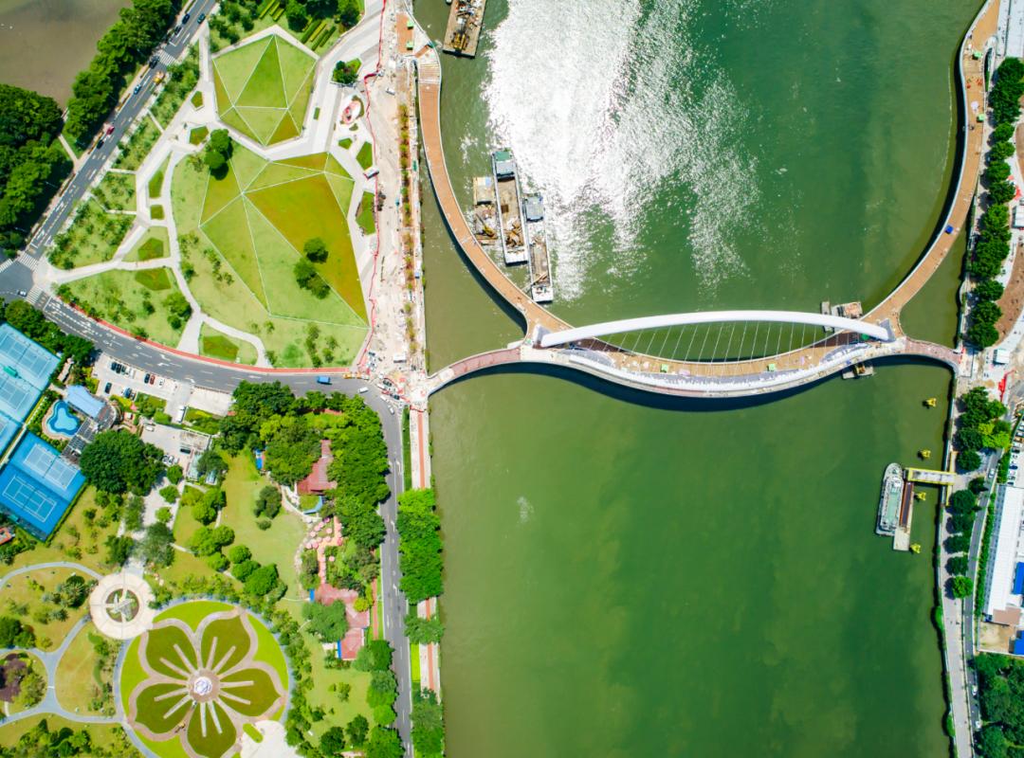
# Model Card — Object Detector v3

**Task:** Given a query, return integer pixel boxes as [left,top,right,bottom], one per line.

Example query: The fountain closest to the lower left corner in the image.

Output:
[194,678,212,695]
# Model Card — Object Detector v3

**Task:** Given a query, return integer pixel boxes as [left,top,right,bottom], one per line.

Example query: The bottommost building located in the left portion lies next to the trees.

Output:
[341,627,365,661]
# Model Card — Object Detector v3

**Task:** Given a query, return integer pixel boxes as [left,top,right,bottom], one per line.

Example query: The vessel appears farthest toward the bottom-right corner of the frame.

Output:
[876,463,903,536]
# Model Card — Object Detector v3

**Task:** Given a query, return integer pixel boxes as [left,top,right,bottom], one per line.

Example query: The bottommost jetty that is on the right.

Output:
[892,480,914,551]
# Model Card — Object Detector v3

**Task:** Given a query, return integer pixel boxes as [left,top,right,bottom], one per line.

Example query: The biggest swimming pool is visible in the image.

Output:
[42,396,85,441]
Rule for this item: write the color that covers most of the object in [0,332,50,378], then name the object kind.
blue tennis court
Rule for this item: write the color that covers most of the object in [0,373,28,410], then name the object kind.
blue tennis court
